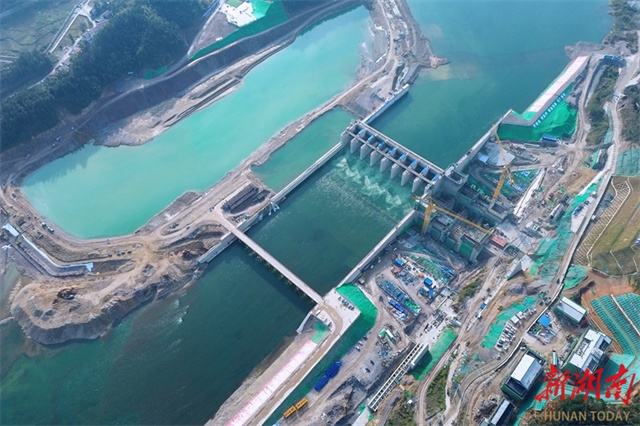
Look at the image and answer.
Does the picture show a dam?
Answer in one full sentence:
Yes, a dam can be made out from above.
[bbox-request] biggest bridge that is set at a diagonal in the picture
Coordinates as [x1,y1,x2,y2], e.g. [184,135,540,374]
[222,212,326,307]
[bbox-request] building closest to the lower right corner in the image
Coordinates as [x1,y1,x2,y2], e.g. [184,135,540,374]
[561,329,612,379]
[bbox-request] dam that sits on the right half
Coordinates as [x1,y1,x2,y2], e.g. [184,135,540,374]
[336,118,446,199]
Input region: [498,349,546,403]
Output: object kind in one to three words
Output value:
building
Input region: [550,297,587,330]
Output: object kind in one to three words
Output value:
building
